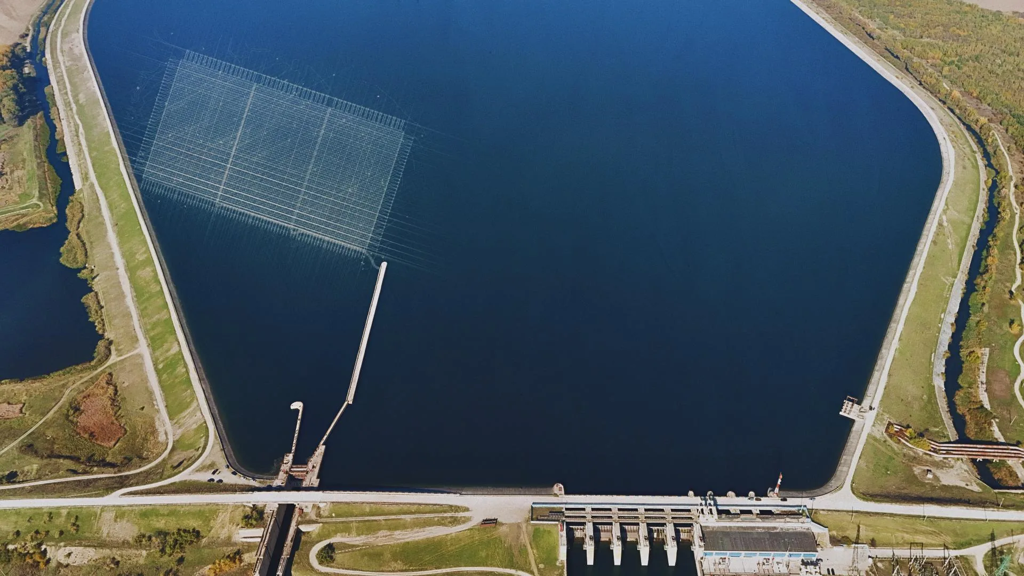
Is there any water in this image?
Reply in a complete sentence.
Yes, the picture does contain water.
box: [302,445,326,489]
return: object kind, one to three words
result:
pier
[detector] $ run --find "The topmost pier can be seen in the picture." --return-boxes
[346,262,387,405]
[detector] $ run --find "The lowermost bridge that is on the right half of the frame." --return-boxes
[559,508,702,524]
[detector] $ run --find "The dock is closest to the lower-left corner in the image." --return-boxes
[273,454,294,489]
